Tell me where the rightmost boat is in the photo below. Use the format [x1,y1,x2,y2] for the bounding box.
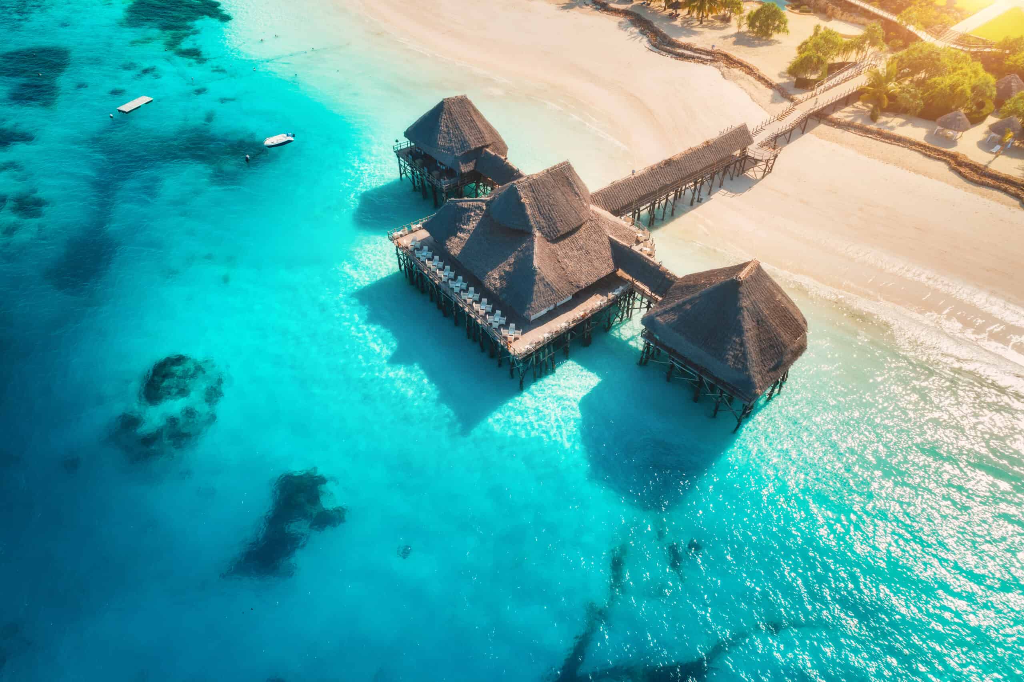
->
[264,130,297,149]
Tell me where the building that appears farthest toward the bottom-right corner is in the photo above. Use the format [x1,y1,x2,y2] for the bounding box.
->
[637,259,813,444]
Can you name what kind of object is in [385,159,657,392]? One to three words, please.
building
